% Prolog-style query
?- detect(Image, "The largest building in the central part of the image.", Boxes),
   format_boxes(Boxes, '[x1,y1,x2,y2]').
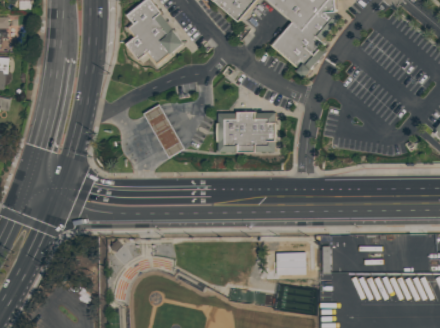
[216,112,276,154]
